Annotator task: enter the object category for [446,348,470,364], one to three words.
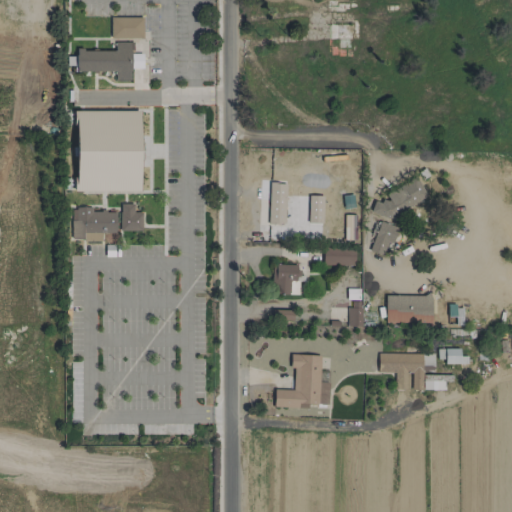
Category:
house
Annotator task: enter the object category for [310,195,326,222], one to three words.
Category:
building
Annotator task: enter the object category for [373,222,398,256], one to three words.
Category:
house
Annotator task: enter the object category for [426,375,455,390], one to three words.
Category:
shed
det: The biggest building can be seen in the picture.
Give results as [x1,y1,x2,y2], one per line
[77,111,144,194]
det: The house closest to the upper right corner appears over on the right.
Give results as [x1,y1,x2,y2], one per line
[376,180,426,213]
